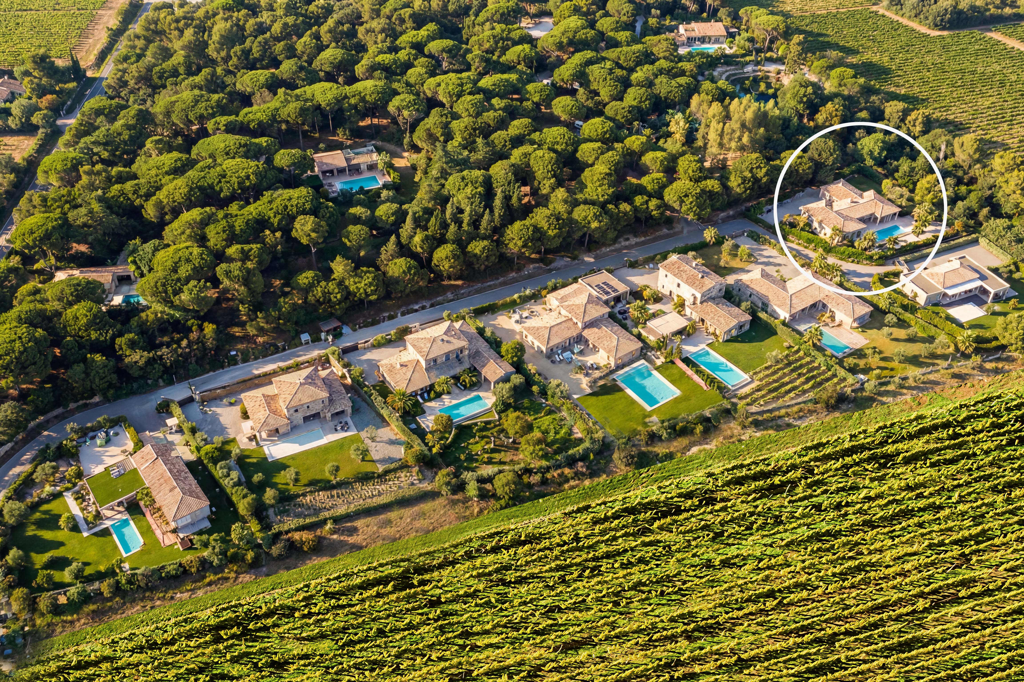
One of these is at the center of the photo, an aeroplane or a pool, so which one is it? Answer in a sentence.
There is a pool at the center of the photo.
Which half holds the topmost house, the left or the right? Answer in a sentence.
You can find the topmost house on the right side of the picture.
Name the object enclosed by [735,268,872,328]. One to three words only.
house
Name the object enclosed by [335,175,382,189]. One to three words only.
swimming pool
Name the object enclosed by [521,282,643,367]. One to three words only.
house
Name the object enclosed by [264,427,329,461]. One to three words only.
swimming pool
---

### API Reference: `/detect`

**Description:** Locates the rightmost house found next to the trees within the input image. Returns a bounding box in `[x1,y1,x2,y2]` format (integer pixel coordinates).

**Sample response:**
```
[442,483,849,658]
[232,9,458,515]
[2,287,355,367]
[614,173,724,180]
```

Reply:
[897,251,1016,305]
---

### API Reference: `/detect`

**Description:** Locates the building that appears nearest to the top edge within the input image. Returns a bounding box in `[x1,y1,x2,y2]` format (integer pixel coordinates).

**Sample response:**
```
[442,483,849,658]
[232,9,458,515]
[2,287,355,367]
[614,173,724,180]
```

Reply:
[673,18,739,46]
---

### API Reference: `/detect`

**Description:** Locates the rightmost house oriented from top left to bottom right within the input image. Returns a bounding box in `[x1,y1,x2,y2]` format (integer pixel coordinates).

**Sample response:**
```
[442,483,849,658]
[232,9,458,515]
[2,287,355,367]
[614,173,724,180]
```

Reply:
[659,255,752,340]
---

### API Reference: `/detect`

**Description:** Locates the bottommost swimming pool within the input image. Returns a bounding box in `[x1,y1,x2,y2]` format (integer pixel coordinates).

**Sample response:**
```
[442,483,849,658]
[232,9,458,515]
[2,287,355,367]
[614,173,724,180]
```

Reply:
[106,515,147,556]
